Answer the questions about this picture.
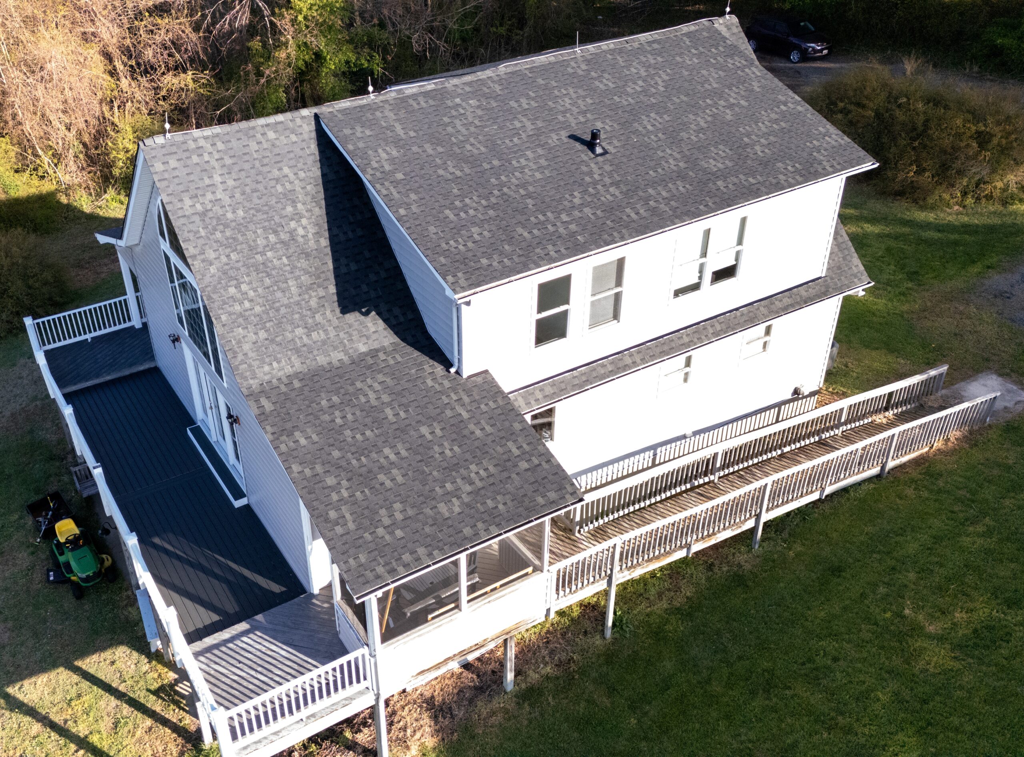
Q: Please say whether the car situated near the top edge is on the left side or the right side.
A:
right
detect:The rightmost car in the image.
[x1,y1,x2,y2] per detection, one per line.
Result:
[747,13,836,63]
